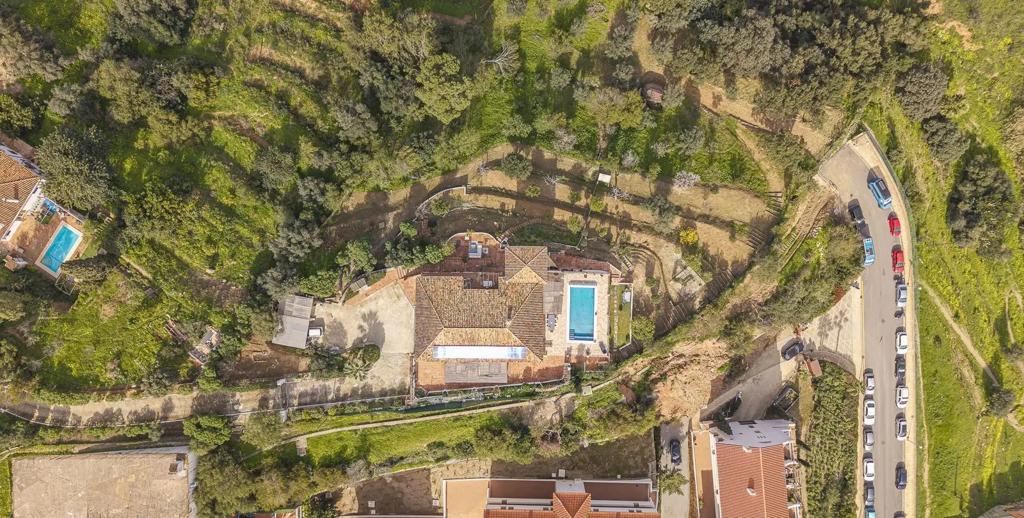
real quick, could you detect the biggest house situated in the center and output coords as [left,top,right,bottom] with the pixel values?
[414,245,548,363]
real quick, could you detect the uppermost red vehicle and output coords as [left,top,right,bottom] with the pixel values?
[888,216,900,236]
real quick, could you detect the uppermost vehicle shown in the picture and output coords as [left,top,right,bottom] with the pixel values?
[869,180,889,207]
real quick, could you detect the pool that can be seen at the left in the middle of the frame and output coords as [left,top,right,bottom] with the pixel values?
[37,222,84,275]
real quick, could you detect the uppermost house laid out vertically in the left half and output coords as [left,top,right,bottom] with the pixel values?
[0,148,44,250]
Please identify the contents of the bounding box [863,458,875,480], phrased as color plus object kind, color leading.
white vehicle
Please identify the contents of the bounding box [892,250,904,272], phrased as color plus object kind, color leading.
red vehicle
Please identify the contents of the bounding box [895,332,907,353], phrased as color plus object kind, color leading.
white vehicle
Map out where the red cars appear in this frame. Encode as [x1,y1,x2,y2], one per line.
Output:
[892,250,904,272]
[888,216,900,236]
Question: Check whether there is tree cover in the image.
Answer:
Yes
